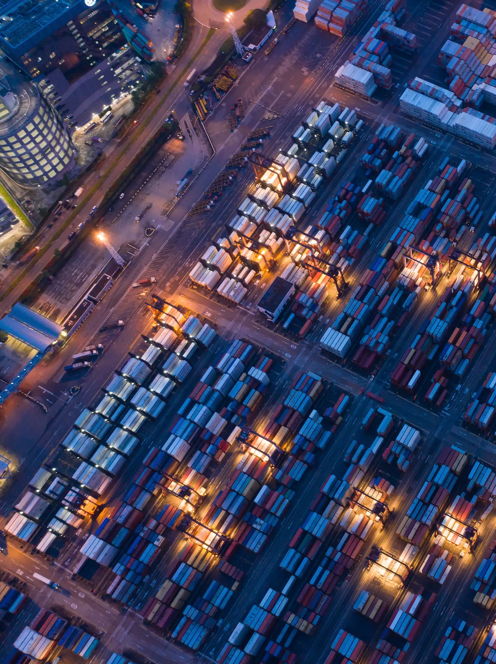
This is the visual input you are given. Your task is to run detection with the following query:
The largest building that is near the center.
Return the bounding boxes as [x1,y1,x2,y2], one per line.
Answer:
[253,264,305,324]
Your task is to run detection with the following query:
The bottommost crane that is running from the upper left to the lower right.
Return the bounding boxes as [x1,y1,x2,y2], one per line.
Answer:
[366,546,414,587]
